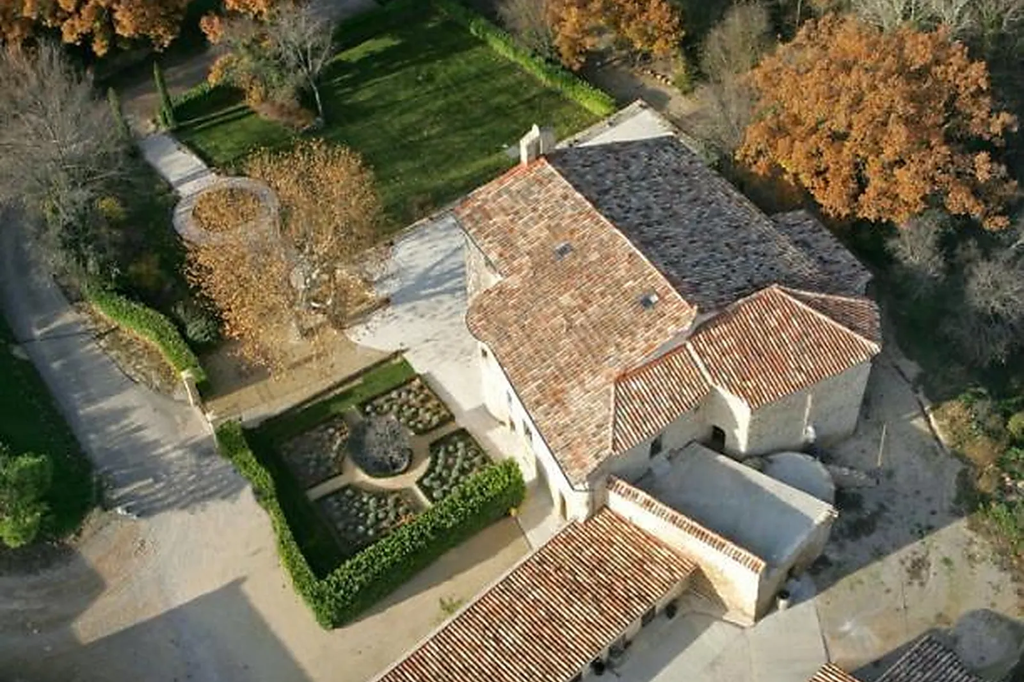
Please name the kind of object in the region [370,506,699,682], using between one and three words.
shed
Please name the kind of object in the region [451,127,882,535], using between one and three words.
house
